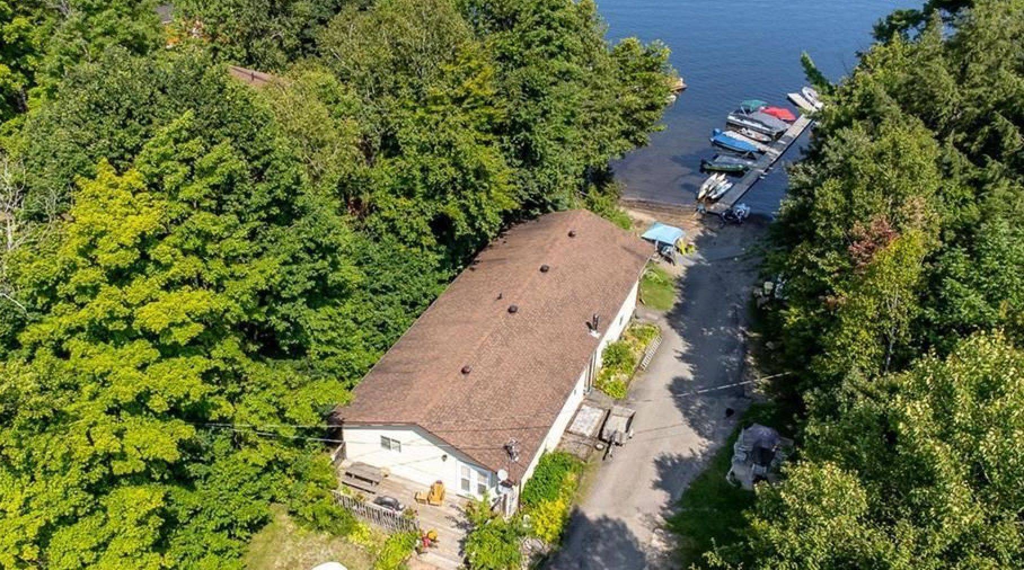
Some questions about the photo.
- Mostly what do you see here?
trees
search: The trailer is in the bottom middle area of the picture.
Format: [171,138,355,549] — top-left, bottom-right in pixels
[595,408,639,465]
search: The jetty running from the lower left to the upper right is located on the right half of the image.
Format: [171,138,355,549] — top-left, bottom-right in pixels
[708,110,821,224]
